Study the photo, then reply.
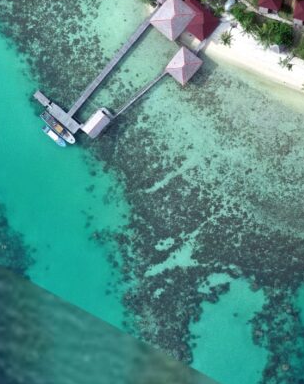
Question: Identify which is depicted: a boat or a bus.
boat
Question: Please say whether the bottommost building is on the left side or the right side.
left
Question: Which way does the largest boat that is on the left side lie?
on a diagonal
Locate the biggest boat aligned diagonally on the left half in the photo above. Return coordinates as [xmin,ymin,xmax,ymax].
[40,110,75,143]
